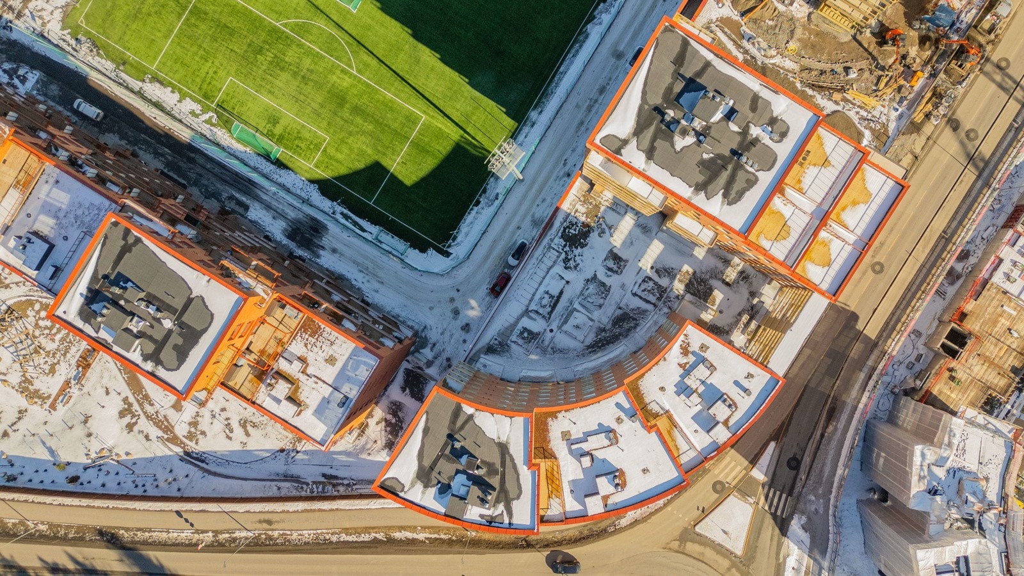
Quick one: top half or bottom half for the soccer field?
top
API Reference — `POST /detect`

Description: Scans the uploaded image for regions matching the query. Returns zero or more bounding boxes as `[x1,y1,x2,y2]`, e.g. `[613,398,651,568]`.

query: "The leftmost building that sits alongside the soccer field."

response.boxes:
[0,97,420,451]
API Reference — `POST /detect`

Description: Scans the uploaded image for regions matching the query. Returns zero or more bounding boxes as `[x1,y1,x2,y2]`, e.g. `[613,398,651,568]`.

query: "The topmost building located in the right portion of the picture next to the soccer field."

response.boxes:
[574,14,910,305]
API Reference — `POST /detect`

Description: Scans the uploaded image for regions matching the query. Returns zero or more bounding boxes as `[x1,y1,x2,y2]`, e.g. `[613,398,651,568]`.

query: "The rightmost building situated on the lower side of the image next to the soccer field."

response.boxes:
[371,307,786,534]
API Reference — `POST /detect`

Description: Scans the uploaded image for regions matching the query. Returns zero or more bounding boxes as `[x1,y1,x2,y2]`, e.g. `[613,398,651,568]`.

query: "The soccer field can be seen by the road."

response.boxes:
[56,0,611,257]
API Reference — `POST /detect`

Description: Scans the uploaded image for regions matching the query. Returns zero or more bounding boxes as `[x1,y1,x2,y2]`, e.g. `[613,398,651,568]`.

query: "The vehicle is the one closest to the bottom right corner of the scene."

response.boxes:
[552,558,582,575]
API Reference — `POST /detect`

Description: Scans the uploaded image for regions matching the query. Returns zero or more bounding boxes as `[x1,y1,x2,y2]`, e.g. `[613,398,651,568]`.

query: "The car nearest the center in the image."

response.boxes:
[490,271,512,299]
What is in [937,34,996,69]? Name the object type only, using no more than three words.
work vehicle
